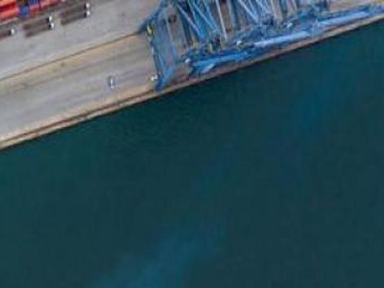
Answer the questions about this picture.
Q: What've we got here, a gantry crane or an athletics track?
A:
gantry crane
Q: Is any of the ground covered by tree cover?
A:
No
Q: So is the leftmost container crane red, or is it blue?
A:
blue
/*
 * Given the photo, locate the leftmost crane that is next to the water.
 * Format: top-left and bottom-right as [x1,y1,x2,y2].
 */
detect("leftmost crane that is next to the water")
[135,0,251,88]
